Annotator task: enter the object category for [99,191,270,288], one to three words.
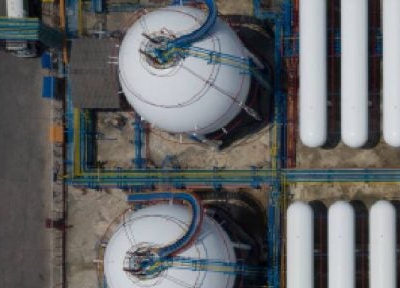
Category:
storage tank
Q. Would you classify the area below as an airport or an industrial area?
industrial area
